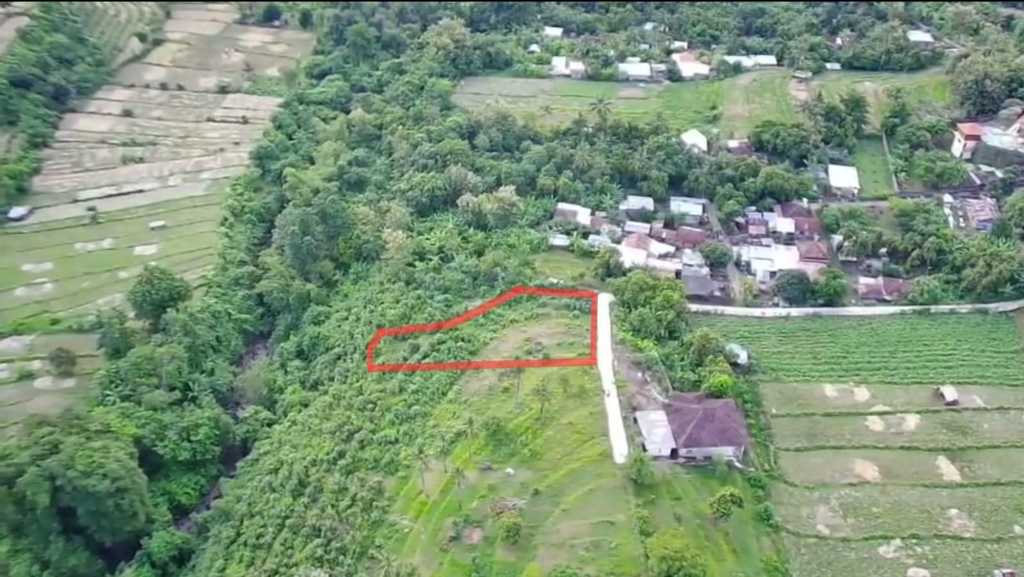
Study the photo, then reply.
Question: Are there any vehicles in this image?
No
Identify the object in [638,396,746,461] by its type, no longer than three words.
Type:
house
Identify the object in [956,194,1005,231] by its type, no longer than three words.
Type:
house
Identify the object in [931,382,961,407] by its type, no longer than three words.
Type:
shed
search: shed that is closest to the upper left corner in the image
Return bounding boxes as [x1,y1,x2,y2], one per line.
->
[3,204,35,226]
